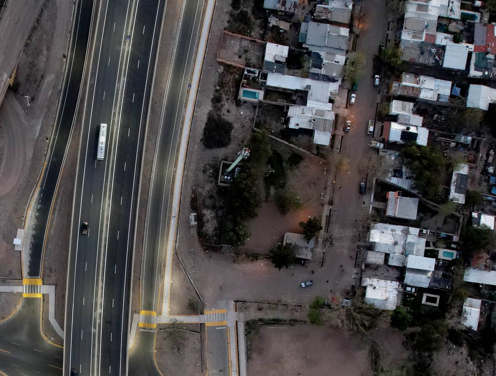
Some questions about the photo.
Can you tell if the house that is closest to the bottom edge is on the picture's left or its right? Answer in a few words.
right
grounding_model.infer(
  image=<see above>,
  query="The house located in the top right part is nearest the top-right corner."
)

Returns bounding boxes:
[468,24,496,55]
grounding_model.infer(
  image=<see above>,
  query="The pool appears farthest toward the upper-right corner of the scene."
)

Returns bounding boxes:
[460,9,480,22]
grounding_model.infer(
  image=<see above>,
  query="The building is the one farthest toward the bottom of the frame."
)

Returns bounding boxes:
[457,297,482,328]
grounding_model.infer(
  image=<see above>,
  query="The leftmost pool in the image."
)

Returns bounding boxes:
[238,87,263,100]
